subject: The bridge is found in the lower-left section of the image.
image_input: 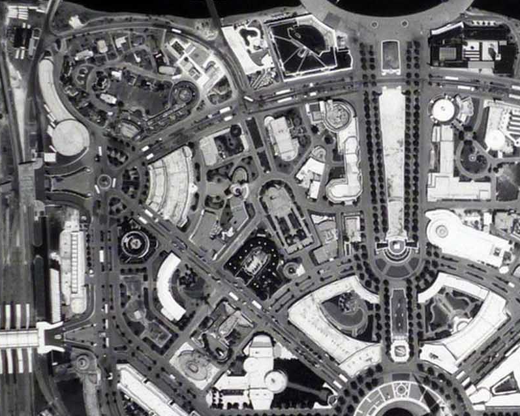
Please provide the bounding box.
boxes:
[0,330,39,348]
